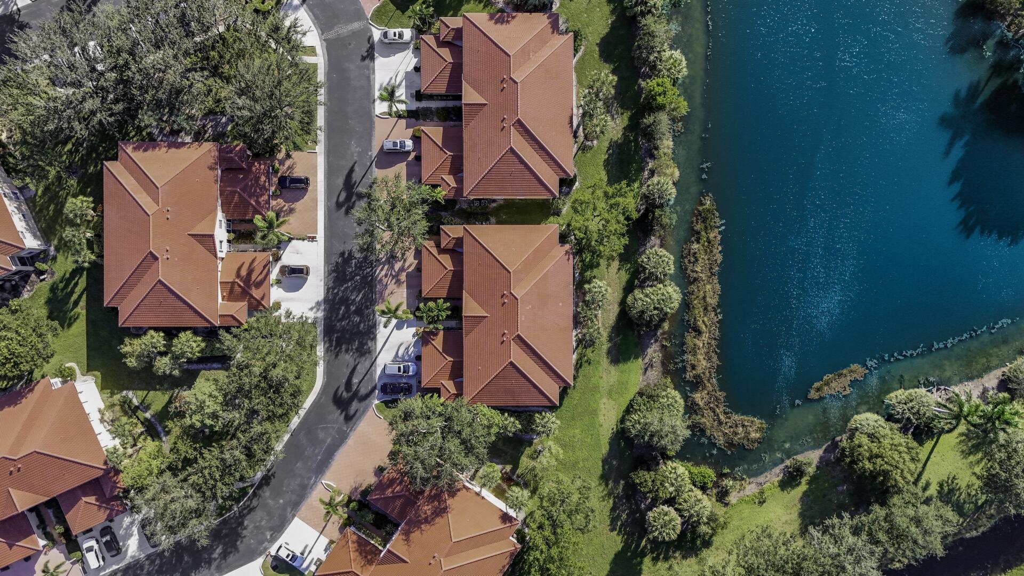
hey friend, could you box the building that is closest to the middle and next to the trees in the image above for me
[420,222,576,408]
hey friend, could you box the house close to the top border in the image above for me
[420,13,576,200]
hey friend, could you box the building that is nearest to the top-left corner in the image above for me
[0,133,69,288]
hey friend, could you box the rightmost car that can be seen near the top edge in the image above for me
[380,28,412,44]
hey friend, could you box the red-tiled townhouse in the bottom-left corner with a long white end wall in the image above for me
[0,375,129,568]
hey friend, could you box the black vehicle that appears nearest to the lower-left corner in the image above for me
[101,525,121,556]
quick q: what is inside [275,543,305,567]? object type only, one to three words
car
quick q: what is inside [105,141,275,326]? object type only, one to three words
house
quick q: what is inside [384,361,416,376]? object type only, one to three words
car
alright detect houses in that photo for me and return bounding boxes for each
[315,454,520,576]
[0,375,129,568]
[0,133,69,288]
[420,222,576,408]
[105,141,275,326]
[420,13,576,200]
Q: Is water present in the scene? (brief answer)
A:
Yes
